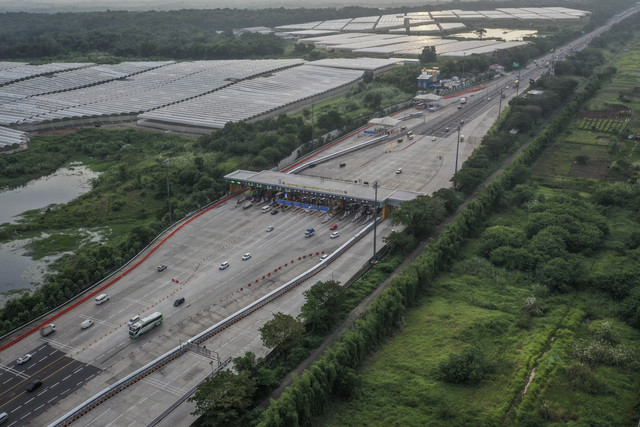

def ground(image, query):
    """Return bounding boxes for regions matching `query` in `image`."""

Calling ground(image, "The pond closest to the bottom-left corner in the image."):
[0,234,68,303]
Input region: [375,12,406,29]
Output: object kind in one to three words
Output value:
greenhouse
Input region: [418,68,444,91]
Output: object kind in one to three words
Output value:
building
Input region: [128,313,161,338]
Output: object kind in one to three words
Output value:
bus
